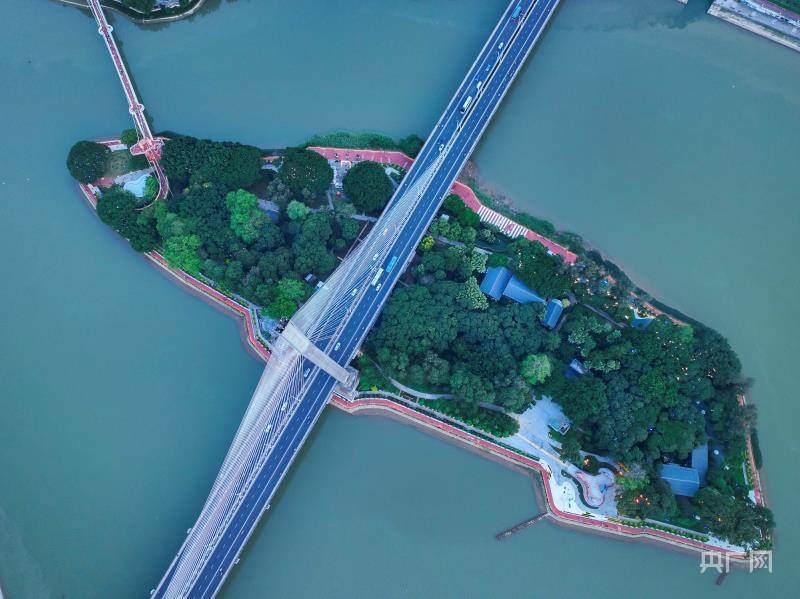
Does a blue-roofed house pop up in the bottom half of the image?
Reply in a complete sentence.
Yes, there is a blue-roofed house in the bottom half of the image.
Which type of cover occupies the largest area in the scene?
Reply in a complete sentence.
The largest share of the image is taken up by water.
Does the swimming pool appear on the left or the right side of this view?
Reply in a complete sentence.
The swimming pool is on the left side of the image.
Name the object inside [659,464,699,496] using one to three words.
house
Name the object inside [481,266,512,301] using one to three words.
building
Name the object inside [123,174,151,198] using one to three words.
swimming pool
